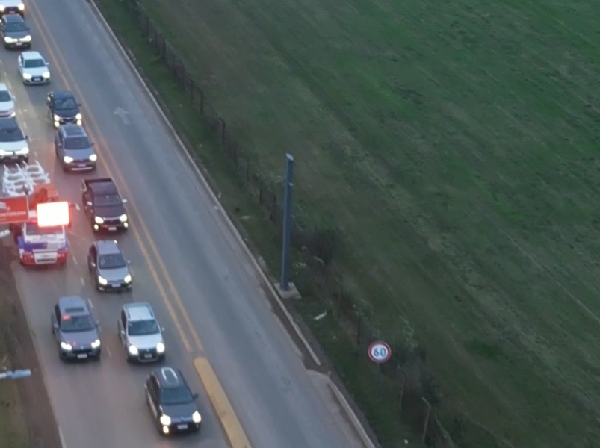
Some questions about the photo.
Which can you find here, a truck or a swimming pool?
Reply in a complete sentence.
This aerial view contains a truck.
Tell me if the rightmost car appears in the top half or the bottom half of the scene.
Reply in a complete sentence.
It is in the bottom half that the rightmost car appears.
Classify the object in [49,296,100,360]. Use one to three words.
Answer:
car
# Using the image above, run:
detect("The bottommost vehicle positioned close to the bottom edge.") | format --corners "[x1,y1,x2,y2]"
[144,360,200,435]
